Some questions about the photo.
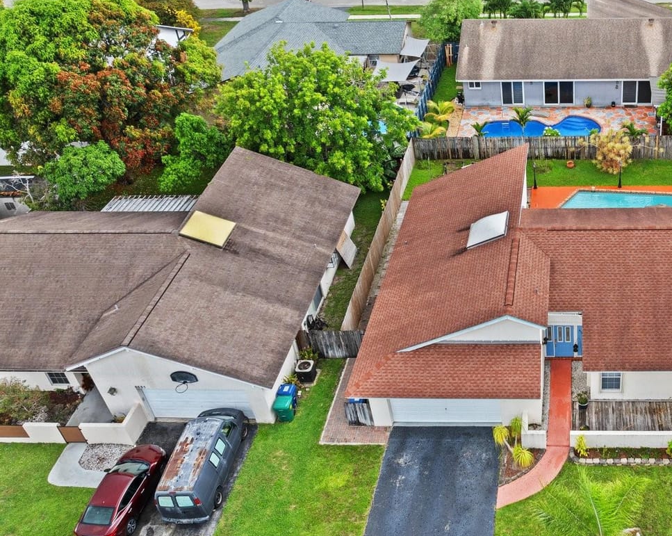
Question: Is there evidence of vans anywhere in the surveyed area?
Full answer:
Yes, looking at the shot, I can spot a van.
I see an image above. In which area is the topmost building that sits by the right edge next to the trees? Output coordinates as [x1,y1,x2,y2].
[458,0,672,105]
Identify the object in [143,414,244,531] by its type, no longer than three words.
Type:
van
